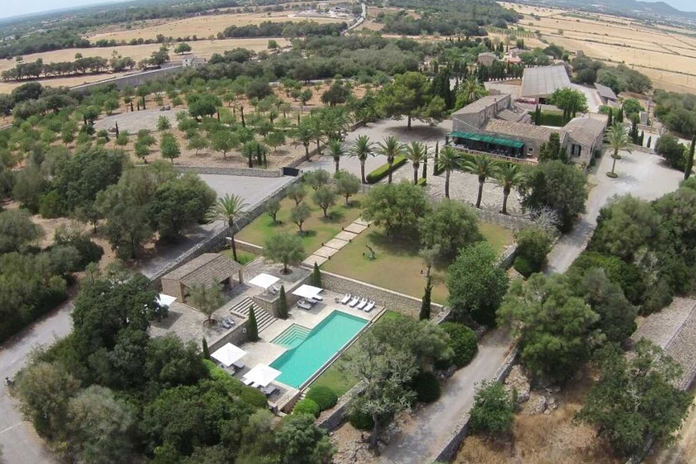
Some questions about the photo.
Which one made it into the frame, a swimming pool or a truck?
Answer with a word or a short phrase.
swimming pool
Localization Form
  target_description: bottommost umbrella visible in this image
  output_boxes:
[235,363,281,397]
